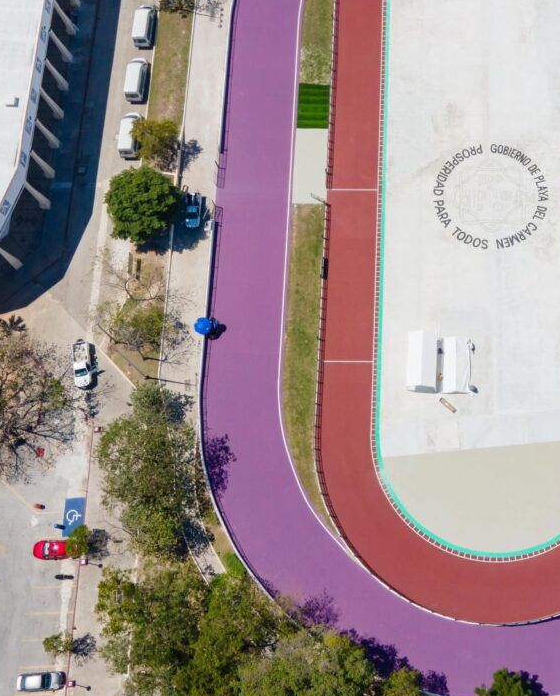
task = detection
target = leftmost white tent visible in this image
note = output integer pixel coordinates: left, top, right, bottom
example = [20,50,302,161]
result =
[406,332,439,389]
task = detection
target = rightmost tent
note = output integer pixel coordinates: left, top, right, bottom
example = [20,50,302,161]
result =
[443,337,474,394]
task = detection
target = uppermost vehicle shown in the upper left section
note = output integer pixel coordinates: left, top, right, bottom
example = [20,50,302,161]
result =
[130,7,152,47]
